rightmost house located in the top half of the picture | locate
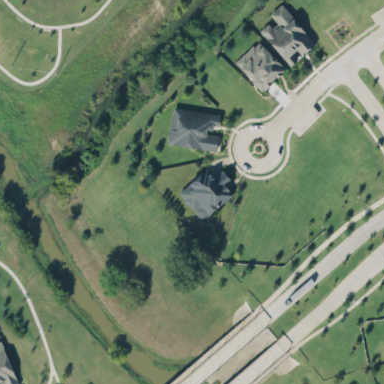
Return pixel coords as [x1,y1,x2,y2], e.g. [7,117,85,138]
[261,4,315,66]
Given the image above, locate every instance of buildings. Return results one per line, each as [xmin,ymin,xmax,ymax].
[180,162,236,221]
[0,342,18,384]
[261,4,315,66]
[168,108,221,152]
[236,42,286,92]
